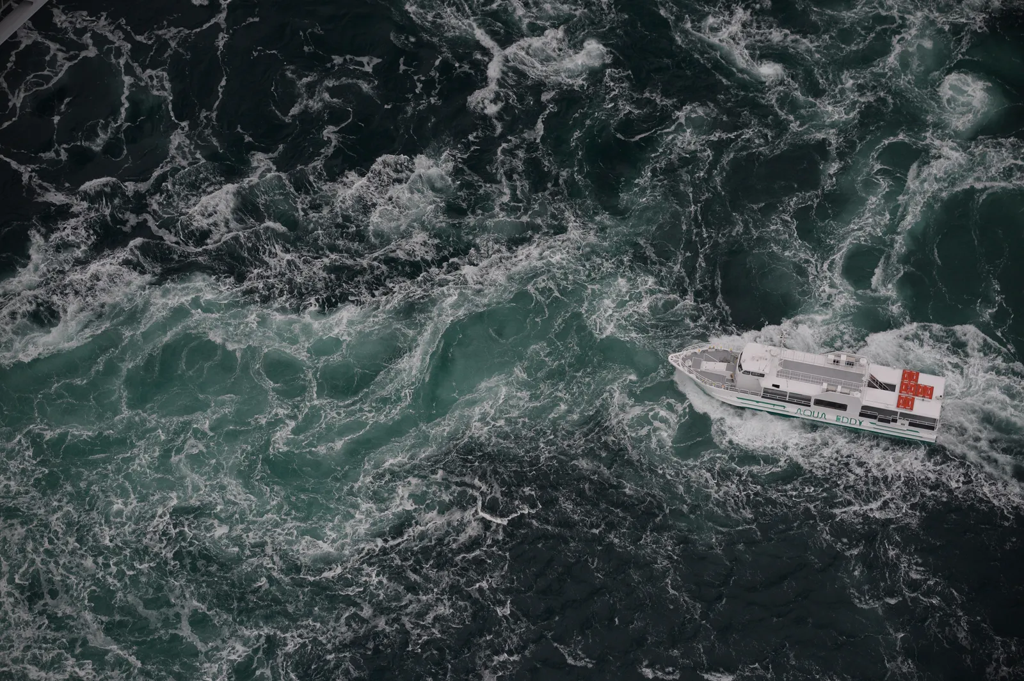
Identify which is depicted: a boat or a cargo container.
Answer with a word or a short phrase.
boat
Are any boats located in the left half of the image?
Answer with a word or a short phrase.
No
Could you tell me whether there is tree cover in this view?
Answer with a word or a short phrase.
No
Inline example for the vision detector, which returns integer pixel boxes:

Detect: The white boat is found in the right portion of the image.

[668,325,945,442]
